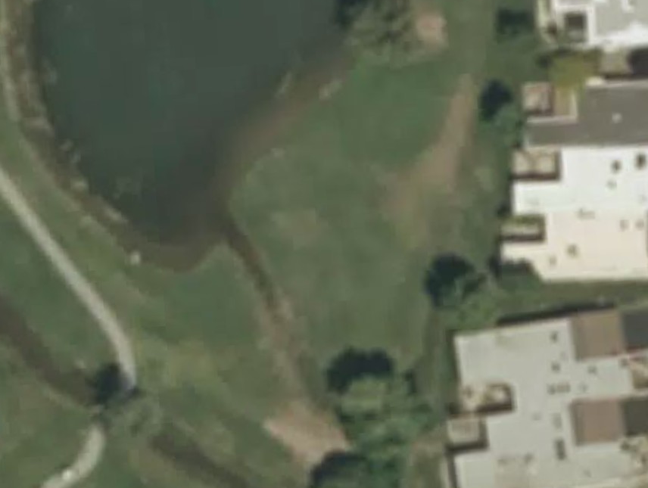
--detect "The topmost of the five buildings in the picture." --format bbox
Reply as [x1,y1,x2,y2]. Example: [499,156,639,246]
[537,0,648,77]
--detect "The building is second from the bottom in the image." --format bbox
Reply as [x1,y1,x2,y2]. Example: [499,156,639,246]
[501,210,648,280]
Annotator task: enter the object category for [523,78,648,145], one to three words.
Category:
house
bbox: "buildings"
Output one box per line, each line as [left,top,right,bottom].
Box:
[523,78,648,145]
[501,210,648,280]
[441,306,648,488]
[512,147,648,214]
[537,0,648,77]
